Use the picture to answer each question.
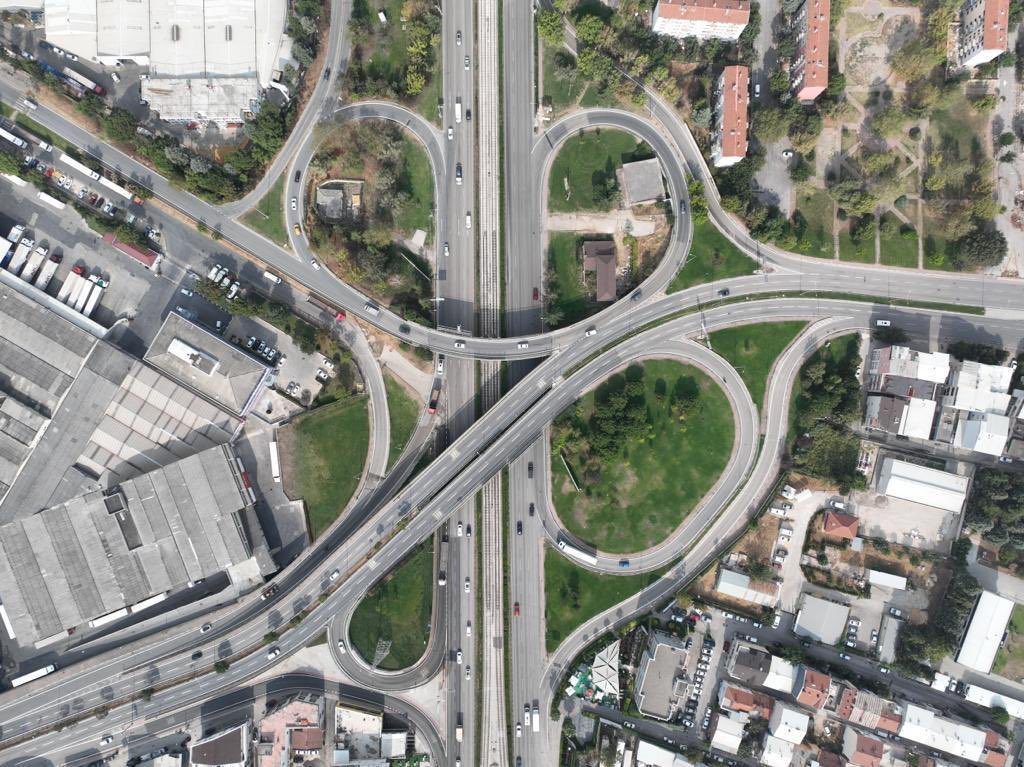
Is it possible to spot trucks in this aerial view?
Yes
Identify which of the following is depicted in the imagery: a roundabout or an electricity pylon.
electricity pylon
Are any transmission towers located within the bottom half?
Yes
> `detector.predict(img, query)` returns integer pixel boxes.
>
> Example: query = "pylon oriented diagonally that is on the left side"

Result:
[368,634,392,668]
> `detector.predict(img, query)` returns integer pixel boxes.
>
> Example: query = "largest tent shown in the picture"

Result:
[590,637,620,693]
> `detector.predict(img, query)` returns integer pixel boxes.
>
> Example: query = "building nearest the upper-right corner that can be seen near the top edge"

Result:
[963,0,1009,64]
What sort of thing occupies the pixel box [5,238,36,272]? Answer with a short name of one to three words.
truck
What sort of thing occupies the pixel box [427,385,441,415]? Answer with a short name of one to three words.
vehicle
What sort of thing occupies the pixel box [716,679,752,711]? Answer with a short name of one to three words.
house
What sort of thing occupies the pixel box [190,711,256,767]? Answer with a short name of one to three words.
building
